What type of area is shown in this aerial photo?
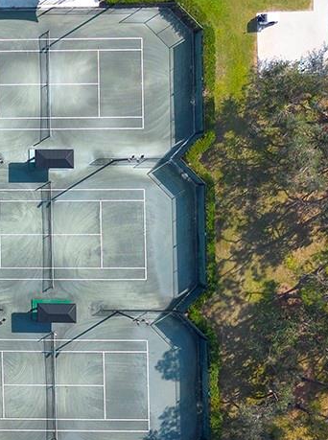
sports ground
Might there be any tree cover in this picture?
Yes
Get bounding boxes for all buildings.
[30,150,74,168]
[32,301,75,323]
